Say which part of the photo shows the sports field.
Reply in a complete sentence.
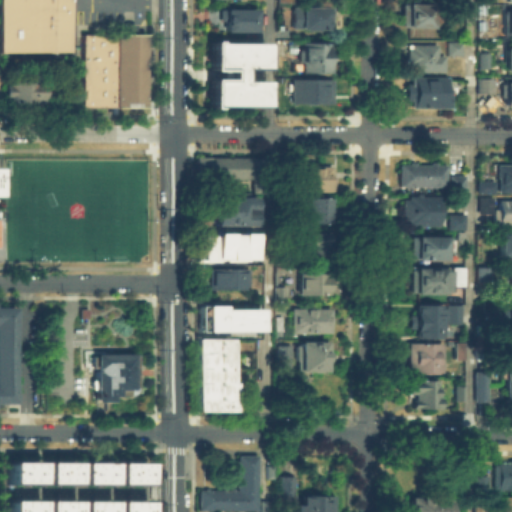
The sports field is in the left part of the image.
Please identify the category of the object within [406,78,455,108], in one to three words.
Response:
house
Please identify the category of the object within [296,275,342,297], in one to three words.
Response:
house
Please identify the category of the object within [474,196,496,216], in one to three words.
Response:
building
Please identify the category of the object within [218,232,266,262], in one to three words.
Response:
building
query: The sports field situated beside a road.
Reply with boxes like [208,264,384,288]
[8,160,149,262]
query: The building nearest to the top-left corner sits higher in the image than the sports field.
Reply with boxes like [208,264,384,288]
[0,0,75,54]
